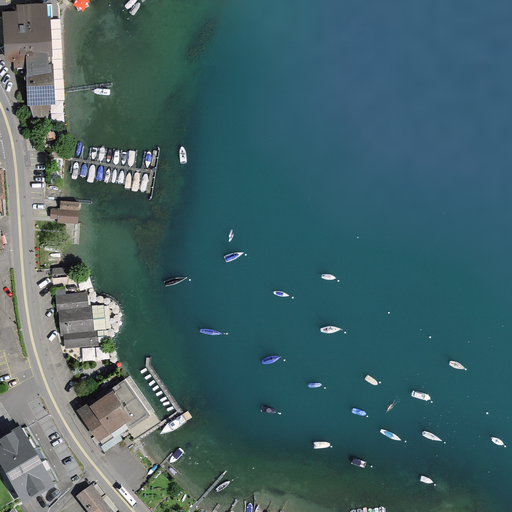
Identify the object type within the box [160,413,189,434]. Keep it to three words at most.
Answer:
boat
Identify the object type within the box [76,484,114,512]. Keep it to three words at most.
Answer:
house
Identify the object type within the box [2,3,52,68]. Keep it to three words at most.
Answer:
building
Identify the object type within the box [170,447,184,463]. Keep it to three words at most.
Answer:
boat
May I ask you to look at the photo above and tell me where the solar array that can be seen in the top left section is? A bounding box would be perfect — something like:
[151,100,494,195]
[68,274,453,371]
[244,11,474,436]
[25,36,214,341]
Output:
[26,86,54,104]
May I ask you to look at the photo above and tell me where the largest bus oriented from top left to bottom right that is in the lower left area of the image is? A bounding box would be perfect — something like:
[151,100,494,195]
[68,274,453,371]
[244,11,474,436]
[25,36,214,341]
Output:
[118,486,138,506]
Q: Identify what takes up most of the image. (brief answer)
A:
water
